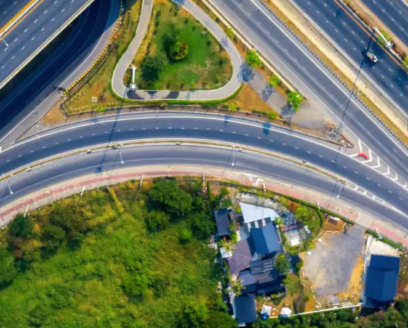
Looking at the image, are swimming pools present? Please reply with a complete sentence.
No, I can see no swimming pool in this picture.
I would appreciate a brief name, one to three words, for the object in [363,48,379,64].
vehicle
